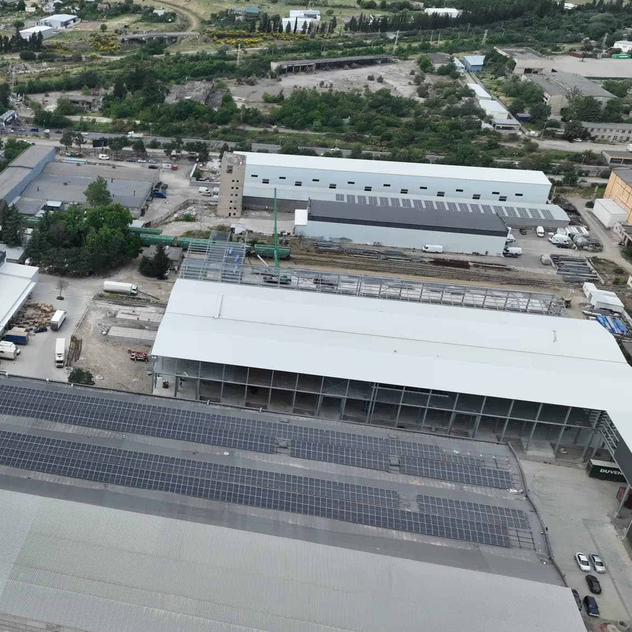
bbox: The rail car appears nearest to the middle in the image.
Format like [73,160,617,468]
[253,243,293,260]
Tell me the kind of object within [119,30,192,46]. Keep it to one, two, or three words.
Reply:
bridge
